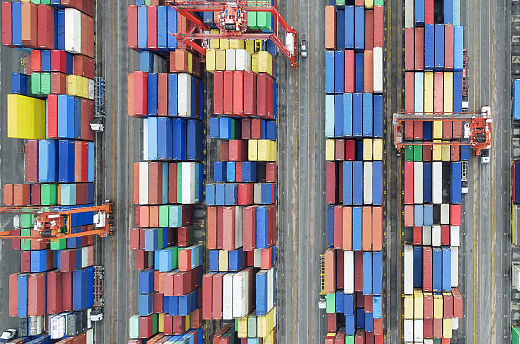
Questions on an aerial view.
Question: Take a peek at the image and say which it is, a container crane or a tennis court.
container crane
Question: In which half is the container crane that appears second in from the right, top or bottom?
top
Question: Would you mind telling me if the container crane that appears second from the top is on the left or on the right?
right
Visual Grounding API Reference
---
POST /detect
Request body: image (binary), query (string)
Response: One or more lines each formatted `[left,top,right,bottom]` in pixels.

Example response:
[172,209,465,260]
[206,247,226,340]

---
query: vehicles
[462,161,468,192]
[480,148,490,164]
[90,267,105,320]
[89,77,104,130]
[300,39,307,58]
[316,256,326,310]
[1,327,19,340]
[462,50,470,109]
